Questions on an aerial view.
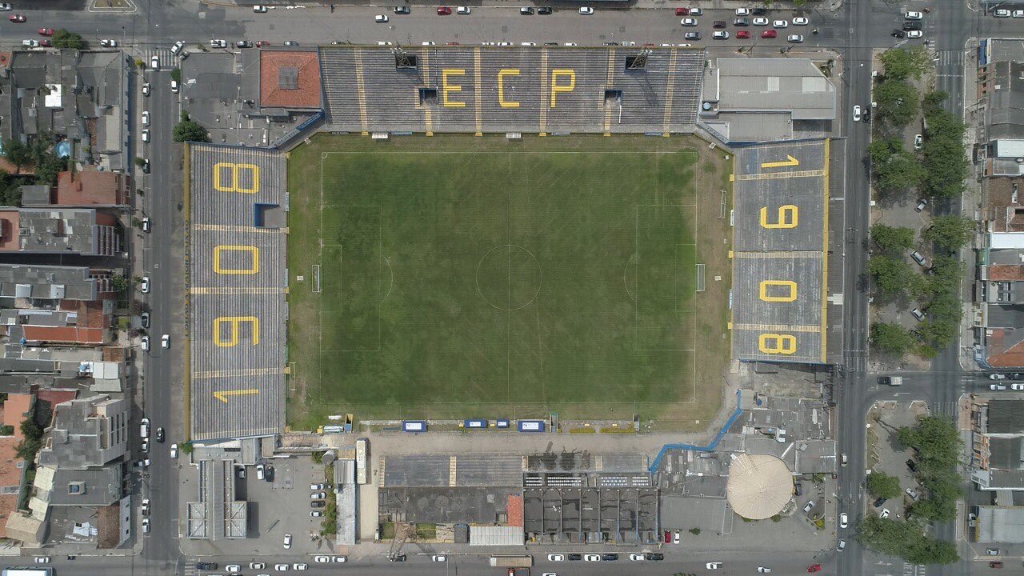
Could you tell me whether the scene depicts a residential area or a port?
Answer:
residential area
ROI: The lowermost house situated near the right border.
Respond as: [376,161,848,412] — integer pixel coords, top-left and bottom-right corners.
[971,503,1024,542]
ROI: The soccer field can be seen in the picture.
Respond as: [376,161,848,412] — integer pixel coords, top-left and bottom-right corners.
[289,134,735,430]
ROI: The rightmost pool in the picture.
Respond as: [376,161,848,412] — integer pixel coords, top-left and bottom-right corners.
[55,139,70,157]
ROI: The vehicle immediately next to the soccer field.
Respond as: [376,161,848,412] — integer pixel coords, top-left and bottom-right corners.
[358,438,370,484]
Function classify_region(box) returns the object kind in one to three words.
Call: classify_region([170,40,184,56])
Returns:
car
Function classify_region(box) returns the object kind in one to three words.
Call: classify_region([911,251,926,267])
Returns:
car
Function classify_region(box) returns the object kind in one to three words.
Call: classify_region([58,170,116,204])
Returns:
house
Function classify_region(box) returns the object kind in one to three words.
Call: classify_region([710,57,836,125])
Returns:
building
